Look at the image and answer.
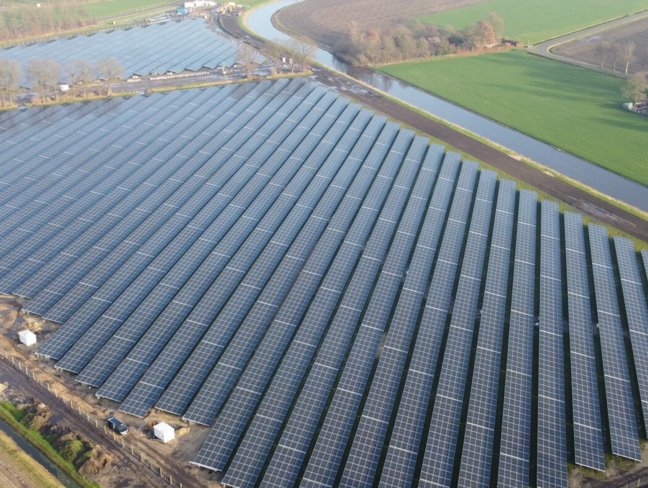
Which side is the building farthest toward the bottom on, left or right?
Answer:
left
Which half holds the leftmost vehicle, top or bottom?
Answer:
bottom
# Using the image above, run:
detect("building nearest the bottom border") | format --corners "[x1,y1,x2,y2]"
[155,419,176,443]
